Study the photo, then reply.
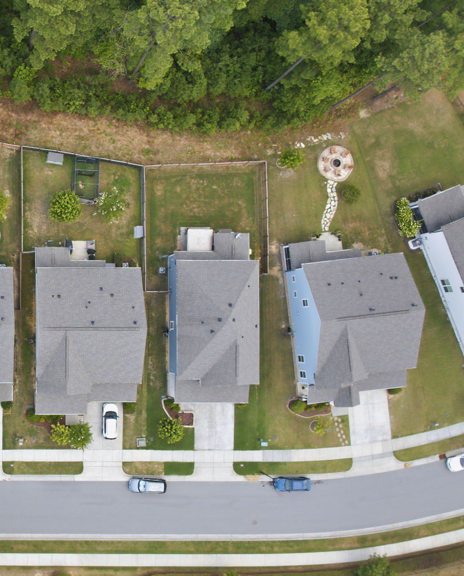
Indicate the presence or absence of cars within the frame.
Yes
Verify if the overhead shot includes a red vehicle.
No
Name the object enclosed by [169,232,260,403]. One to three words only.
house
